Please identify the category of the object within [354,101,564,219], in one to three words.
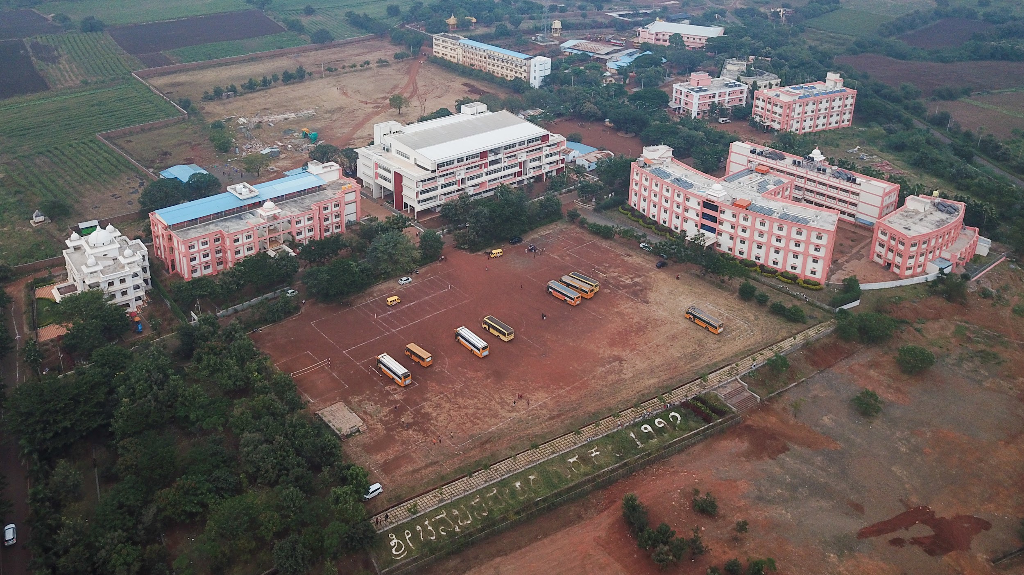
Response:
building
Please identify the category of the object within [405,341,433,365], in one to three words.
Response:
bus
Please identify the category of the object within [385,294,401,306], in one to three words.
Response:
vehicle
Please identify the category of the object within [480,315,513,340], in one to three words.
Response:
bus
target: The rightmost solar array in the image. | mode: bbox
[936,200,960,215]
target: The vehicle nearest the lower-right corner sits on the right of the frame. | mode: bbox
[684,307,724,333]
